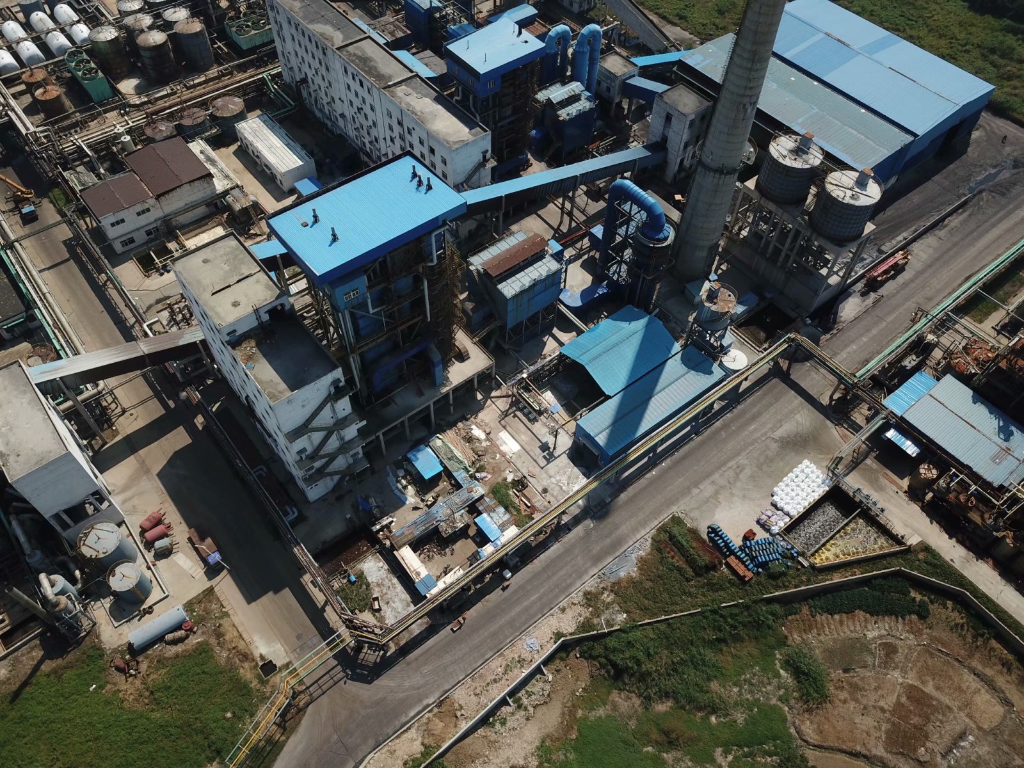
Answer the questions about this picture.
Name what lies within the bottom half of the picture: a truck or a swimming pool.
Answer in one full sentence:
There is a truck within the bottom half of the picture.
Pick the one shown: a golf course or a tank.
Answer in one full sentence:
There is a tank in the scene.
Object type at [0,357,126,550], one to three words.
building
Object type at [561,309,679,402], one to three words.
shed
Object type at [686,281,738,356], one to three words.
storage tank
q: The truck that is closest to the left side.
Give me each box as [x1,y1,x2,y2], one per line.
[186,519,229,577]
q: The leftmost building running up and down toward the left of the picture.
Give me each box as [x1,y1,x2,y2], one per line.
[0,272,32,344]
